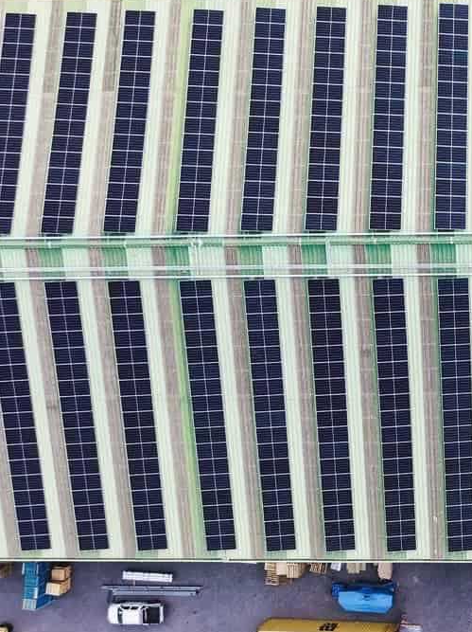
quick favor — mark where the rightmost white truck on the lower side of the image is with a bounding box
[109,601,167,628]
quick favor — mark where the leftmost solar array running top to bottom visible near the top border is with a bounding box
[0,12,37,237]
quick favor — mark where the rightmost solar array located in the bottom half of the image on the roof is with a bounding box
[437,276,472,552]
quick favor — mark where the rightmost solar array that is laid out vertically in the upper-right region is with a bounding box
[434,2,471,231]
